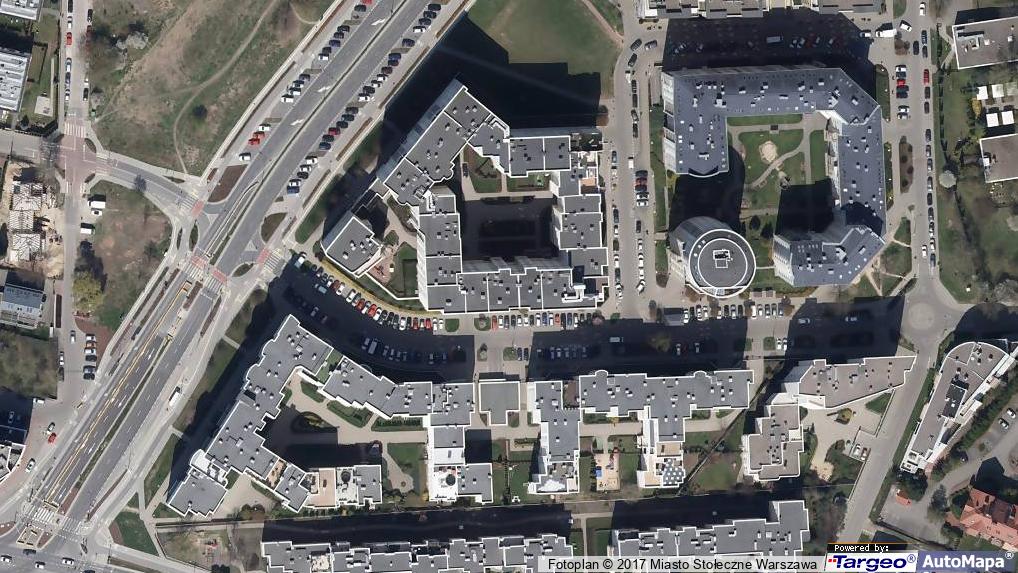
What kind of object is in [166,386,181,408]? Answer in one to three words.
vehicle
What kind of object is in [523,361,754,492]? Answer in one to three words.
building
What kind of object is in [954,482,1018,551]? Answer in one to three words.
house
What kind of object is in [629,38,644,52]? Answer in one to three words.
vehicle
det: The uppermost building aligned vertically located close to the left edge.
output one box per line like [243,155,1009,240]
[0,50,29,110]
